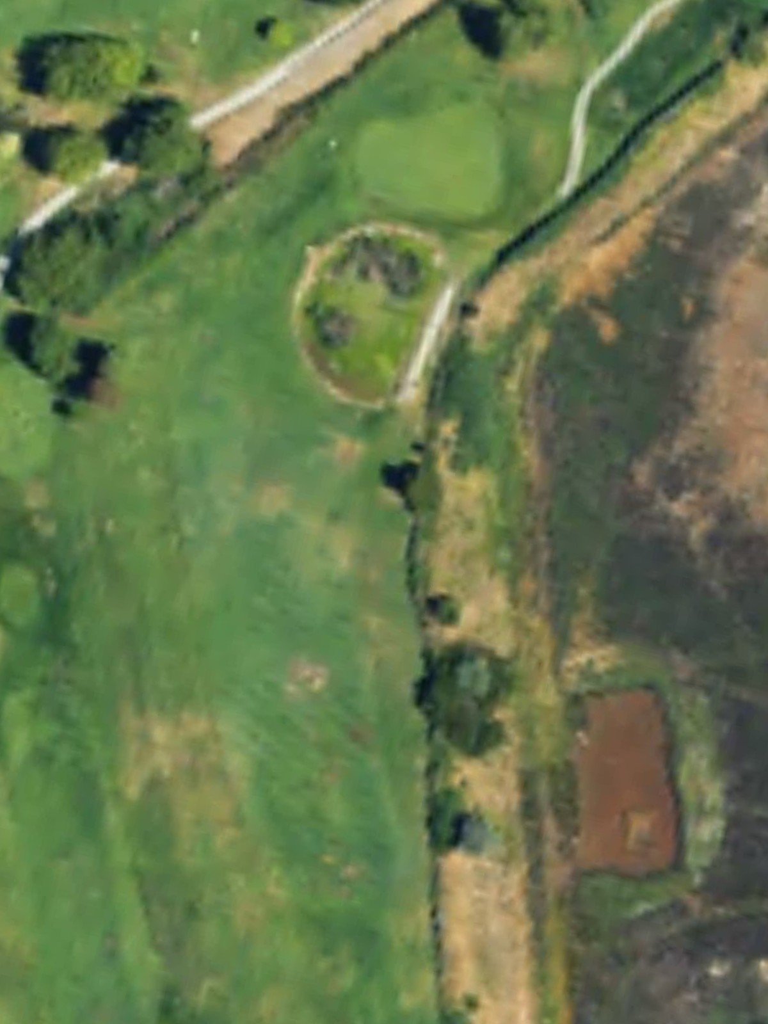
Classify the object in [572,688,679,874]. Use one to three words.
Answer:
pond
